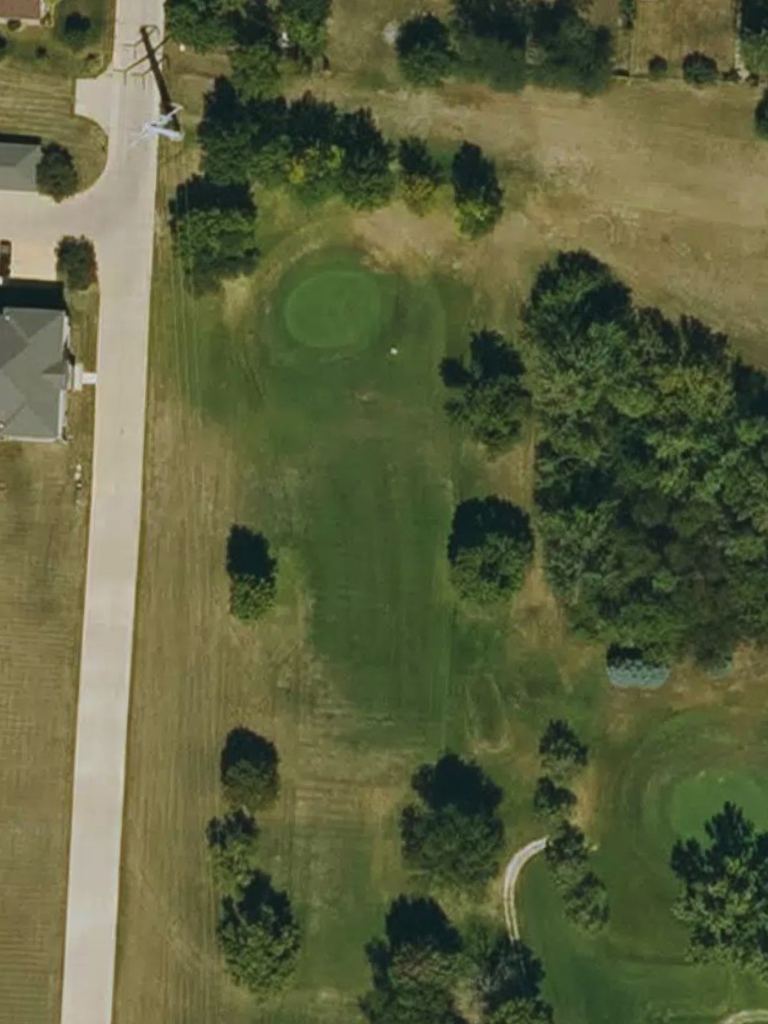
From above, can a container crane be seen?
No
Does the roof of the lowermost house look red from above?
No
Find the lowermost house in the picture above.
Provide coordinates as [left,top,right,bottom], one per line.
[0,308,85,439]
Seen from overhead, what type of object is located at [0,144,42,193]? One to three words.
building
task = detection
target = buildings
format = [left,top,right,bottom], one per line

[0,308,85,439]
[0,0,42,21]
[0,144,42,193]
